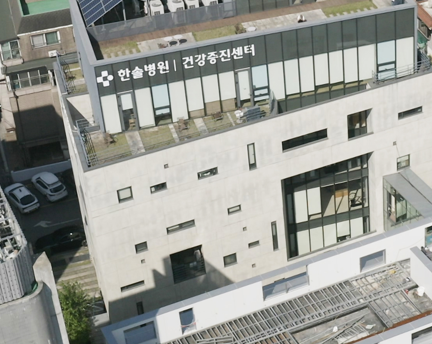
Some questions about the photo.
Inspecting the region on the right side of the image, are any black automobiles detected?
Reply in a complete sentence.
No, there's no black automobile to be seen on the right side of the image.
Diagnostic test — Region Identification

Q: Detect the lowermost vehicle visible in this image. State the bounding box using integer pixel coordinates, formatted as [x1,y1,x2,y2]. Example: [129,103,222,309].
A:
[28,226,91,262]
